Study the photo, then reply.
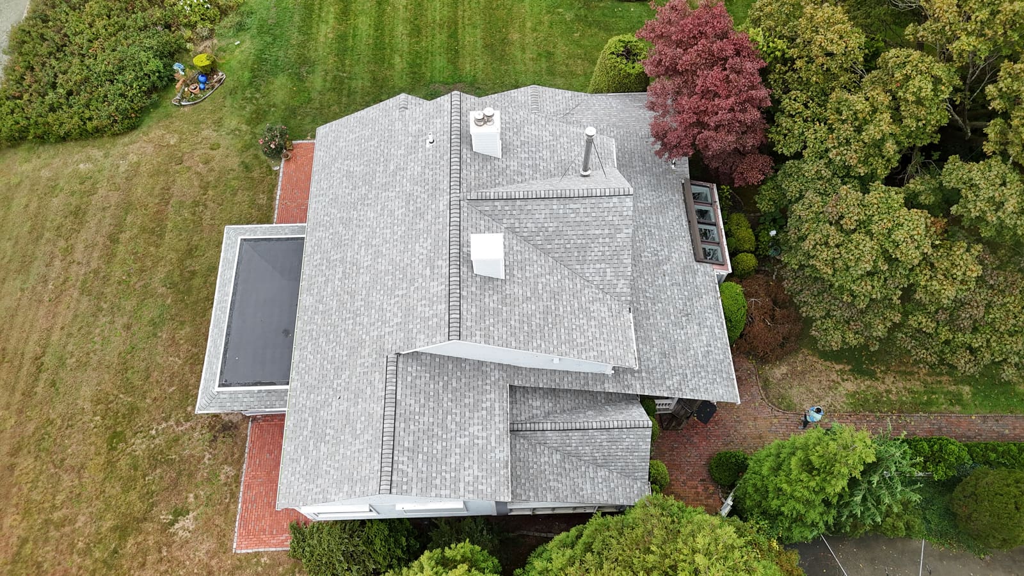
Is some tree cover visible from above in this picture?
Yes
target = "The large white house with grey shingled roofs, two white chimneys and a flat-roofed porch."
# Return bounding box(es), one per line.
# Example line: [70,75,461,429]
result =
[192,85,741,522]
